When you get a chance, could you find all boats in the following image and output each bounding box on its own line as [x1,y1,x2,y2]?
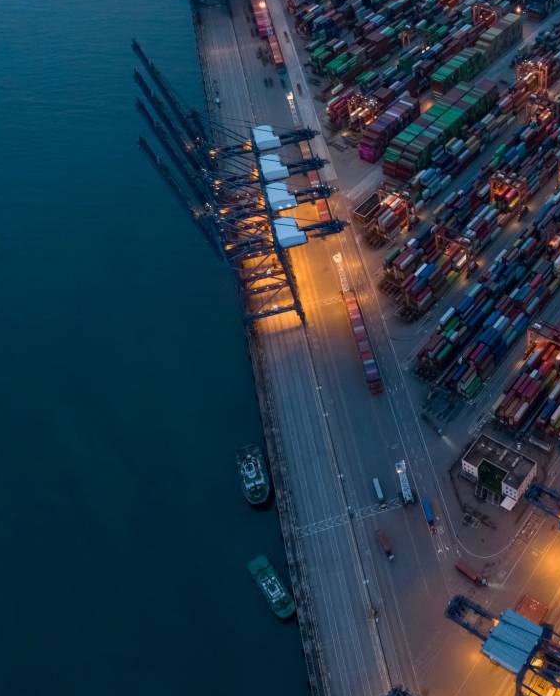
[235,441,267,504]
[244,551,293,618]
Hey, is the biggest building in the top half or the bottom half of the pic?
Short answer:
bottom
